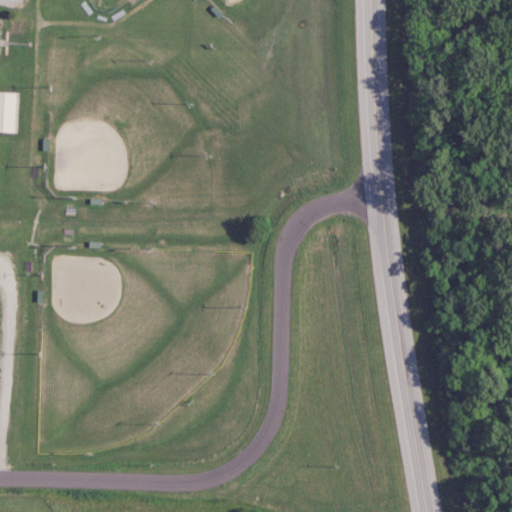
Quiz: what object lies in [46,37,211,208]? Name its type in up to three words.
baseball field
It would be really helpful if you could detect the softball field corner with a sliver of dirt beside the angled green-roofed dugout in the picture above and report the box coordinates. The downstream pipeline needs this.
[211,0,290,52]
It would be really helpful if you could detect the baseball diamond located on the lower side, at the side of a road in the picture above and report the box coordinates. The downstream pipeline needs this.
[39,247,252,454]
